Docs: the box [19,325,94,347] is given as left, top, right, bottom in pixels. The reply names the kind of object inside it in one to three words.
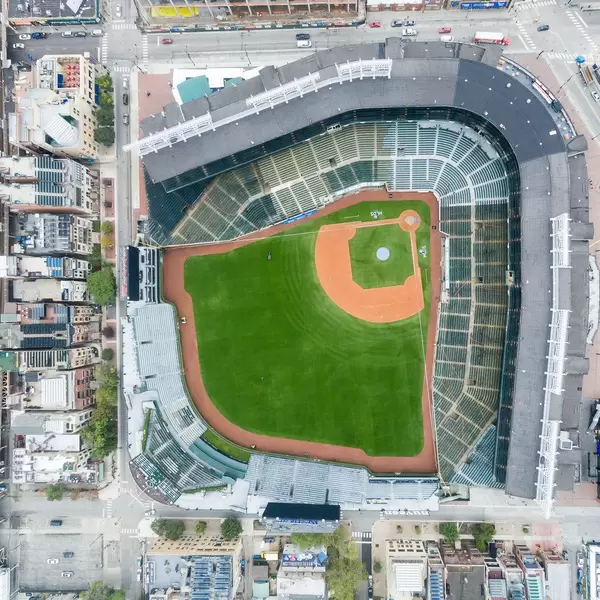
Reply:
building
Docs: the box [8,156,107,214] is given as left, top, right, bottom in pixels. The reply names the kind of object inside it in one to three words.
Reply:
building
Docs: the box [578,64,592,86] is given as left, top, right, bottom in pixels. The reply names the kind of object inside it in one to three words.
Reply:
vehicle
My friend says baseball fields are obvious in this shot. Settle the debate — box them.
[165,189,445,474]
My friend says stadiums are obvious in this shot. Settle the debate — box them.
[120,36,595,514]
